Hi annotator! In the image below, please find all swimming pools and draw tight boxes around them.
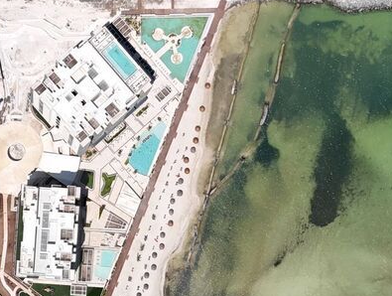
[112,44,136,73]
[141,15,213,84]
[94,247,121,283]
[127,120,169,176]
